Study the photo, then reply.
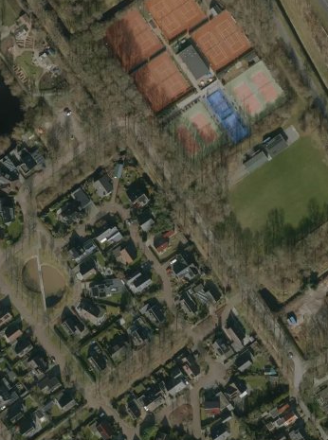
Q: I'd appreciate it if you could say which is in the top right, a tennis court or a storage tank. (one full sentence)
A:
The one visible in the top right is a tennis court.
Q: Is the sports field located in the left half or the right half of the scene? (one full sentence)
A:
The sports field sits on the right side.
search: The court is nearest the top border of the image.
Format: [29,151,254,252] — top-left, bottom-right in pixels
[144,0,207,40]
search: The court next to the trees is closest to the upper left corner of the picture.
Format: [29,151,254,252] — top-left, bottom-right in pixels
[105,9,165,73]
